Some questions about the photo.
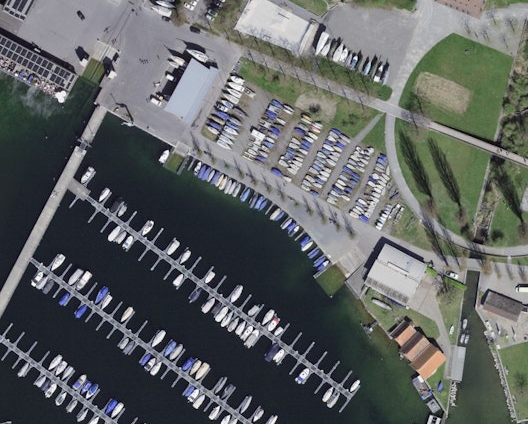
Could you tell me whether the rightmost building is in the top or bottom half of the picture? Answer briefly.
bottom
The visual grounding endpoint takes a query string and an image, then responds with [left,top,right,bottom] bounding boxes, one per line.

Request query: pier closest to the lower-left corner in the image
[0,322,139,424]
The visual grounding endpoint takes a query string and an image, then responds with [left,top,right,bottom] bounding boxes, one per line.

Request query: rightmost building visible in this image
[483,289,524,321]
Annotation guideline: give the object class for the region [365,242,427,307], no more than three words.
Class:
building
